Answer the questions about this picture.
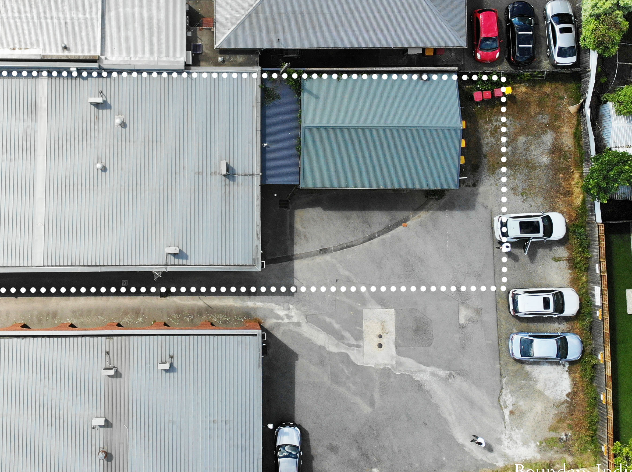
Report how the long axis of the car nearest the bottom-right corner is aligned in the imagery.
from left to right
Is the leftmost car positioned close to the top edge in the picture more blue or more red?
red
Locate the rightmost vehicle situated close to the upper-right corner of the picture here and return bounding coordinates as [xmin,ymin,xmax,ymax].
[544,0,581,65]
